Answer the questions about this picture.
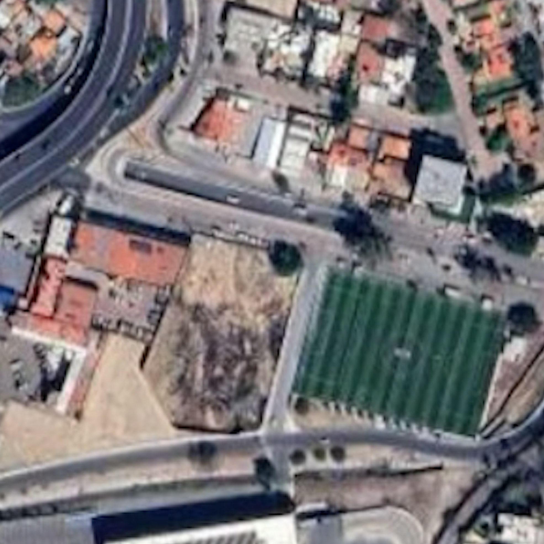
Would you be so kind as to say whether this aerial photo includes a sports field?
Yes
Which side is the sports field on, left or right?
right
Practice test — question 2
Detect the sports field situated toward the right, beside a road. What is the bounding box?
[293,271,504,435]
